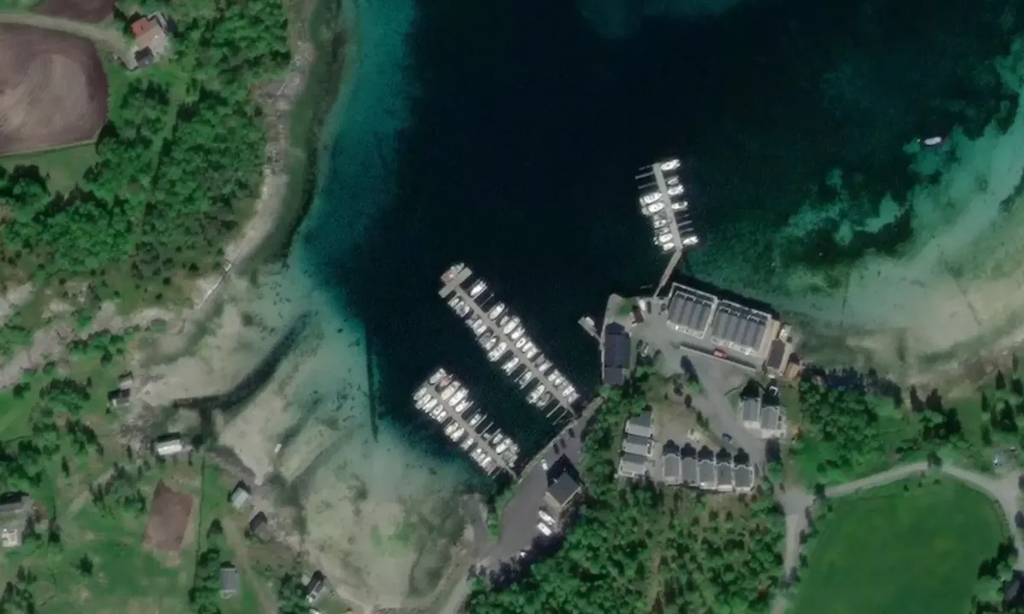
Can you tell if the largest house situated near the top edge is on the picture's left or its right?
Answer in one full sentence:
It is on the left.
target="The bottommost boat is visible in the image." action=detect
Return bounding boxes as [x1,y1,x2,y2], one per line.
[539,511,557,527]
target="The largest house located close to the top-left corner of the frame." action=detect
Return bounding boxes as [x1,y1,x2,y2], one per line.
[130,17,160,48]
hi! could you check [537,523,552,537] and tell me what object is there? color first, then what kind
white vehicle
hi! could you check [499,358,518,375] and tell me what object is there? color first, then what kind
white boat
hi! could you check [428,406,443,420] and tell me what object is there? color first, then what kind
white boat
